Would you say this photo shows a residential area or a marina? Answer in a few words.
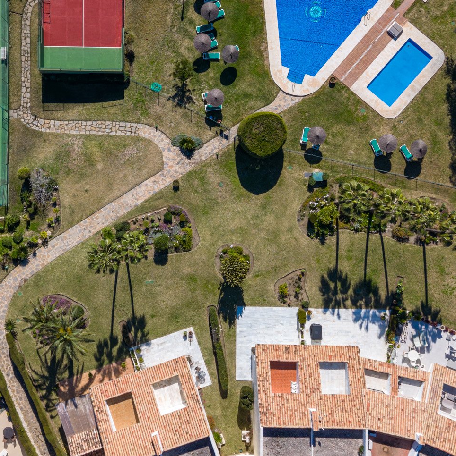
residential area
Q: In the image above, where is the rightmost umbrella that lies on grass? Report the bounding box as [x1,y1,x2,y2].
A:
[410,140,429,159]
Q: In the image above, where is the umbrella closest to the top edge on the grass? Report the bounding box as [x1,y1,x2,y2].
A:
[200,2,218,21]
